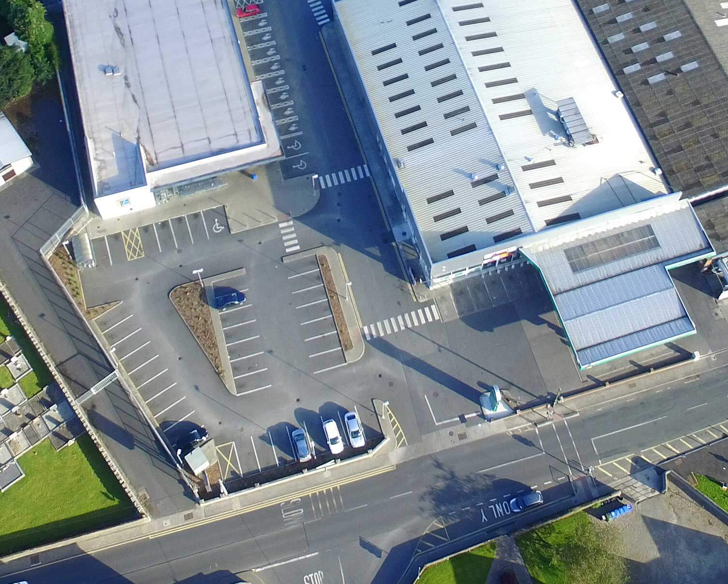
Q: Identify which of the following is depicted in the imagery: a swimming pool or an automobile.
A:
automobile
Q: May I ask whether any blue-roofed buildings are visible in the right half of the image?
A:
No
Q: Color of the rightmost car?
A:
blue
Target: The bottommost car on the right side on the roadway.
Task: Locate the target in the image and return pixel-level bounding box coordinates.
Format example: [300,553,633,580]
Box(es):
[510,490,544,513]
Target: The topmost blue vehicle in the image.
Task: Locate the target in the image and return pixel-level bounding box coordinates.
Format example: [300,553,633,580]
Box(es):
[214,290,245,308]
